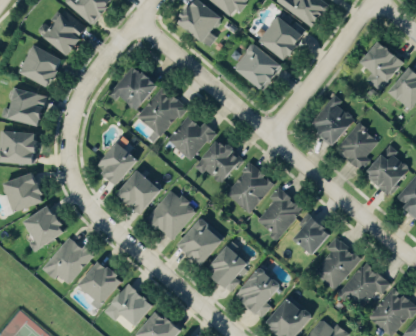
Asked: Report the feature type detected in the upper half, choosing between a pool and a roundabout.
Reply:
pool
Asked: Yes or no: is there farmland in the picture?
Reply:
No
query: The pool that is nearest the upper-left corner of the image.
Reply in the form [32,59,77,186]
[102,124,123,150]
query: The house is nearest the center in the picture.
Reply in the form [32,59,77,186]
[197,139,238,182]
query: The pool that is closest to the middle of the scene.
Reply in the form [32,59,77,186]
[133,120,154,138]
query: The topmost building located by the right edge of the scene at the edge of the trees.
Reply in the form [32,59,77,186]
[359,43,400,87]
